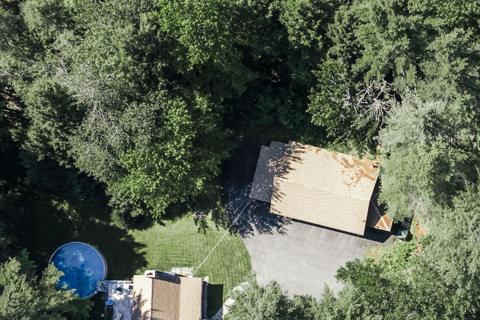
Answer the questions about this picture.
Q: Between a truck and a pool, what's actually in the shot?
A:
pool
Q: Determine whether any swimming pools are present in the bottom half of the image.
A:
Yes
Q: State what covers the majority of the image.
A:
trees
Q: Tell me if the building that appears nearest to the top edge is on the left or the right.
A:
right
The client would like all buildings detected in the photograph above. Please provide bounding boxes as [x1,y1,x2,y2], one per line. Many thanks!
[249,140,391,236]
[133,269,205,320]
